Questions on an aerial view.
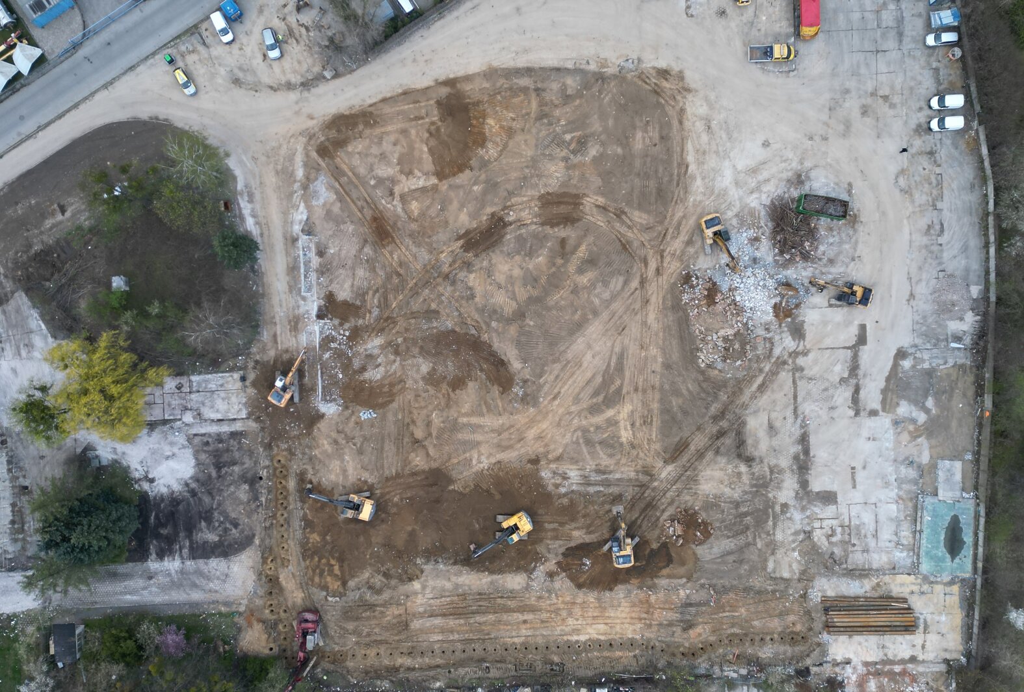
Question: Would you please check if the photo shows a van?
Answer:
Yes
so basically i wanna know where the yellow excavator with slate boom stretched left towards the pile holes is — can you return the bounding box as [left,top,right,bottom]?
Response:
[297,485,378,526]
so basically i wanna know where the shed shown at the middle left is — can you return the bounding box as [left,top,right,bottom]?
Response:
[111,276,135,291]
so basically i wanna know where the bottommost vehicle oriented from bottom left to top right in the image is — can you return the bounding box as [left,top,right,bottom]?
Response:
[459,510,537,562]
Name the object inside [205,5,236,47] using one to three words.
van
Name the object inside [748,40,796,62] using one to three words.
truck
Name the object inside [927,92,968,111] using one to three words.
vehicle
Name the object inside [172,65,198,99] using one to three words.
car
